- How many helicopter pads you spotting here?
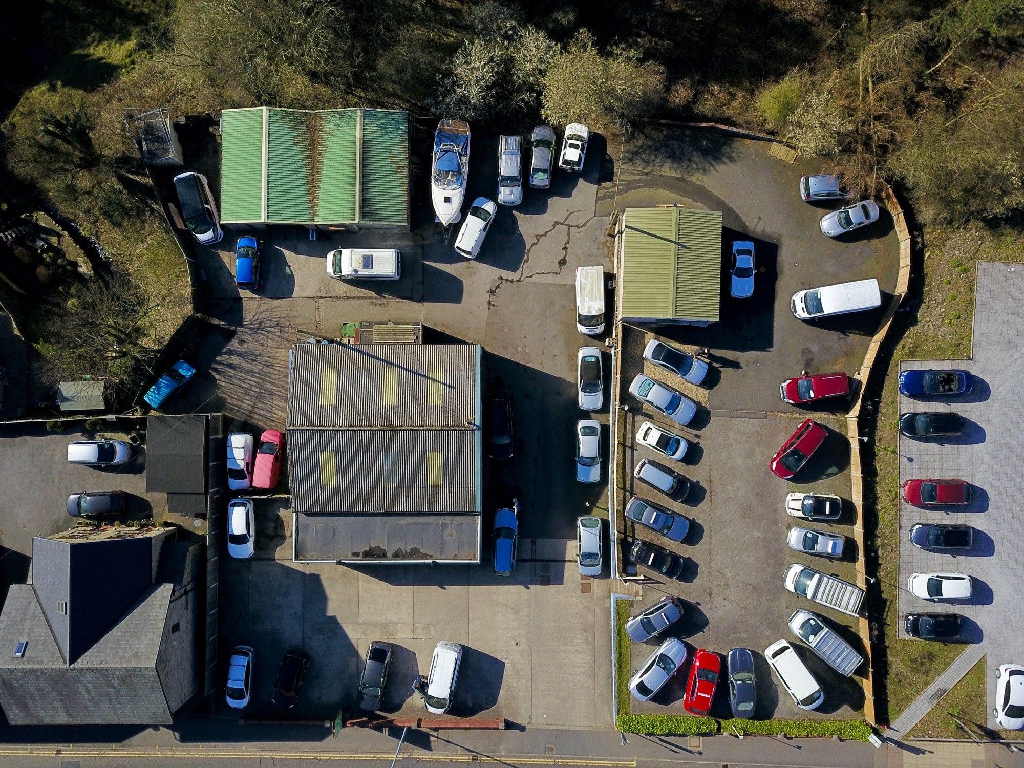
0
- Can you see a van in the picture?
Yes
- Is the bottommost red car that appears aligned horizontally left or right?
right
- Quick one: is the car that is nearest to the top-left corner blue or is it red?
blue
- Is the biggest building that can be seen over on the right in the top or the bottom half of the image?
top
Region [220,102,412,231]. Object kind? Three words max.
shed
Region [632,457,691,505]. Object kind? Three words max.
car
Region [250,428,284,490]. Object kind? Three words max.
van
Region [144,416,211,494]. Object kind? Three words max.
building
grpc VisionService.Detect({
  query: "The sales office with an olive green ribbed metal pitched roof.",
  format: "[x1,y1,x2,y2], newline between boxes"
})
[619,206,723,326]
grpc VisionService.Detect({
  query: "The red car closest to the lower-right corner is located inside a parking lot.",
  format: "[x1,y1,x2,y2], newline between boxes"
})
[902,477,972,510]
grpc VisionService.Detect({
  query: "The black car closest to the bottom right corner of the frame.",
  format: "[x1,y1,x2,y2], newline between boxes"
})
[904,611,965,645]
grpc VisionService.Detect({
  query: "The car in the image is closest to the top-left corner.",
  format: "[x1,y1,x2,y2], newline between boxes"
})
[231,236,263,290]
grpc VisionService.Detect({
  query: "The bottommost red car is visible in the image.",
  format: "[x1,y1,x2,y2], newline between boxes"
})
[682,648,722,715]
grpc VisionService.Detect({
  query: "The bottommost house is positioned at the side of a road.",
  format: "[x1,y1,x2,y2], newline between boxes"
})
[0,527,202,725]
